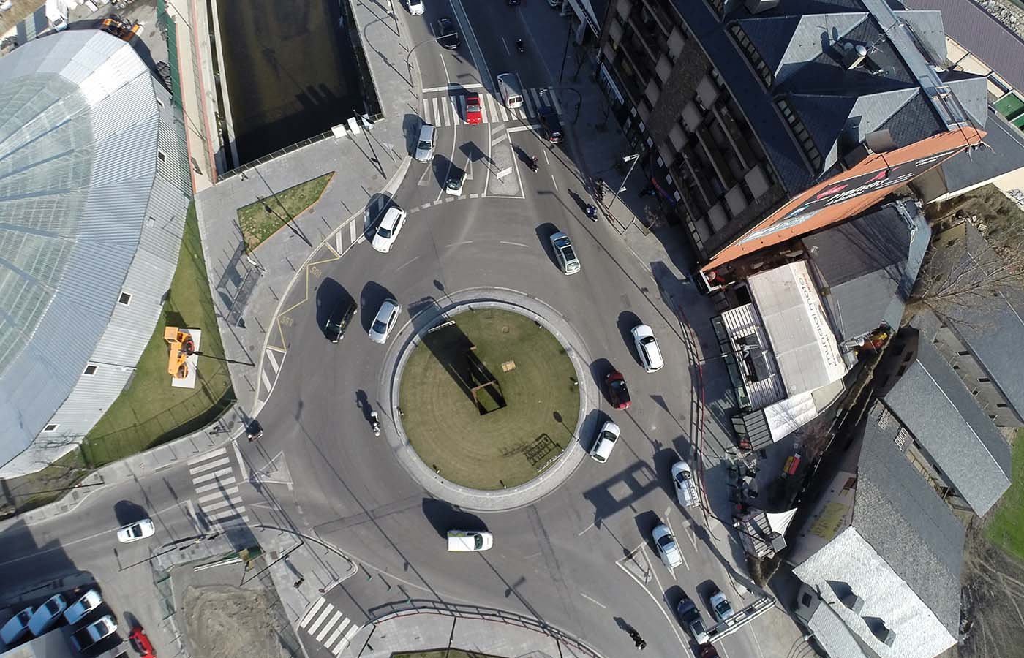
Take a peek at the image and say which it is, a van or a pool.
van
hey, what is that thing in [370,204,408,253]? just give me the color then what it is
white car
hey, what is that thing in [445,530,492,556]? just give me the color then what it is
white vehicle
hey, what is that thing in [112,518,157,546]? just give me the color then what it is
white car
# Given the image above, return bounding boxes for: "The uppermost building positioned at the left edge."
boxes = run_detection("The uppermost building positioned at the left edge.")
[0,27,192,482]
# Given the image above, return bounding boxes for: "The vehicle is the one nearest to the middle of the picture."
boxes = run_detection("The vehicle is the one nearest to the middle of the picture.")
[551,231,579,275]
